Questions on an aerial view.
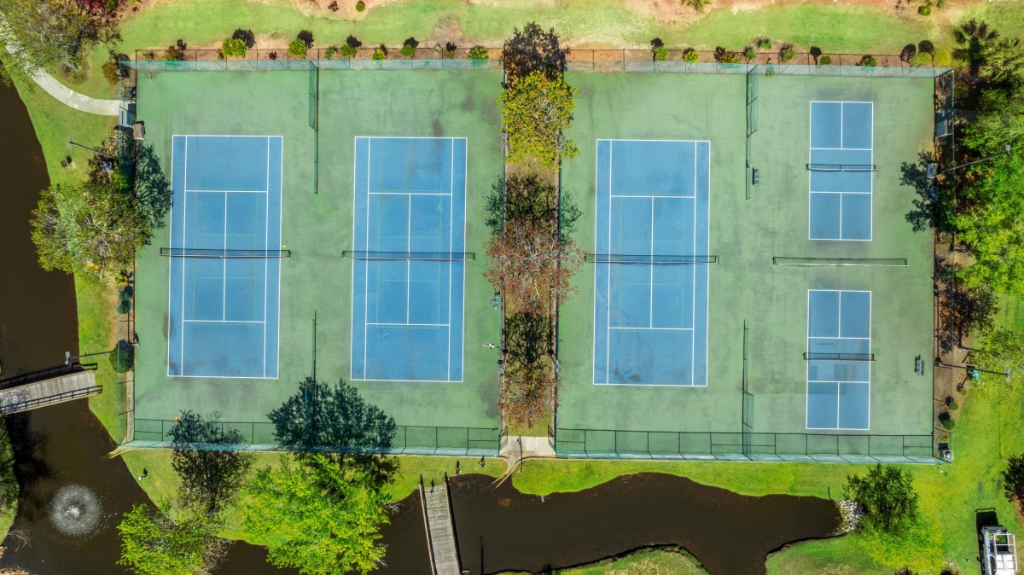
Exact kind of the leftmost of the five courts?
tennis court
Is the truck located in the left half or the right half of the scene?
right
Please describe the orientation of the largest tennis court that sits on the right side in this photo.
up and down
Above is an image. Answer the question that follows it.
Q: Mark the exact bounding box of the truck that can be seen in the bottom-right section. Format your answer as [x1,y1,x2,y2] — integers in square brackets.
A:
[984,523,1019,575]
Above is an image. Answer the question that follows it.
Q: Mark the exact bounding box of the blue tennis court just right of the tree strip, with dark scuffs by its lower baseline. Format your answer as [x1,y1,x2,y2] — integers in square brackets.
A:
[593,139,710,387]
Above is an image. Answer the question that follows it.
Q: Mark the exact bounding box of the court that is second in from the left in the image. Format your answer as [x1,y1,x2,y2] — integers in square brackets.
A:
[351,136,468,382]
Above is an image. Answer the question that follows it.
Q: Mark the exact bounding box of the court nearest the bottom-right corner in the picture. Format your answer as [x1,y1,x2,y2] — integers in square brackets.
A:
[794,290,879,430]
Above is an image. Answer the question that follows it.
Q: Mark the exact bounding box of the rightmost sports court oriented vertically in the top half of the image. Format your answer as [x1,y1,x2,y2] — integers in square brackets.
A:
[809,101,873,240]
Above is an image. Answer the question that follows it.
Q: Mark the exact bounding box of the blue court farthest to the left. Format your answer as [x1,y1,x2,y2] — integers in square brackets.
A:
[168,135,283,379]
